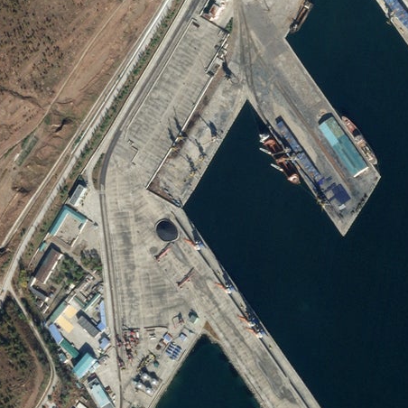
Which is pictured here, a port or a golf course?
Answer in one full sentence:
The area seen from above is a port.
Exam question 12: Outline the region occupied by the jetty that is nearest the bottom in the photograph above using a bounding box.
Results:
[182,208,320,408]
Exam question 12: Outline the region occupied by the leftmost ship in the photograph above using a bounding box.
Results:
[258,133,298,184]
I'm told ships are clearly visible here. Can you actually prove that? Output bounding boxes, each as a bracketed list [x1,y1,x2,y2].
[291,2,311,33]
[342,116,378,167]
[258,133,298,184]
